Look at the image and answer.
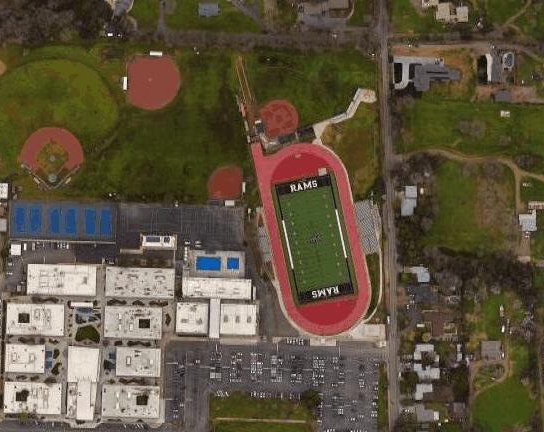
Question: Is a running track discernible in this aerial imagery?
Yes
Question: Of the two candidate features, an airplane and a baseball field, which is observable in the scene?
baseball field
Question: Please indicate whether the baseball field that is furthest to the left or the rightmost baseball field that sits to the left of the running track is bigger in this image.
the baseball field that is furthest to the left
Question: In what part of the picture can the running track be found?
center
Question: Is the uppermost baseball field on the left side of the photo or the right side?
left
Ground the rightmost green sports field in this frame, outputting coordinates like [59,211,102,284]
[272,173,358,306]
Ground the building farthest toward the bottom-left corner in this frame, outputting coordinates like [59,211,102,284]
[3,383,62,414]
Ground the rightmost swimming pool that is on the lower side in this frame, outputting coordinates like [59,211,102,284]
[227,258,239,271]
